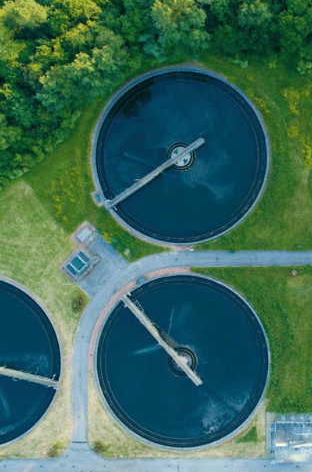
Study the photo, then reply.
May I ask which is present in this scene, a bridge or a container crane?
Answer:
bridge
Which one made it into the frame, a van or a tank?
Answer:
tank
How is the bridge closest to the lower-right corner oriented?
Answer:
on a diagonal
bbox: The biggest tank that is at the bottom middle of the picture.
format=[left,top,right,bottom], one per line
[93,272,272,450]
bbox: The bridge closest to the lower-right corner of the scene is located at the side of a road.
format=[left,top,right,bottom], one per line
[118,292,202,385]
